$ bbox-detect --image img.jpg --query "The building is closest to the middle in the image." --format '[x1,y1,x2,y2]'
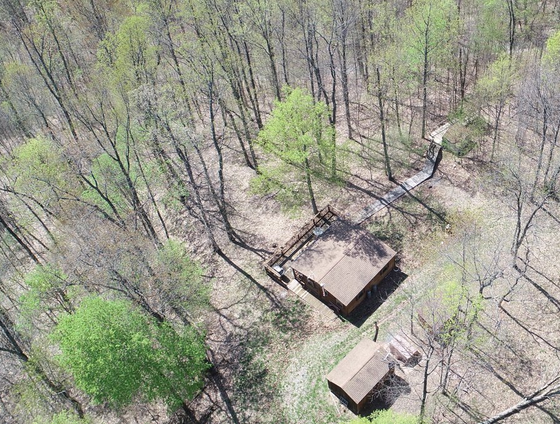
[290,218,397,315]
